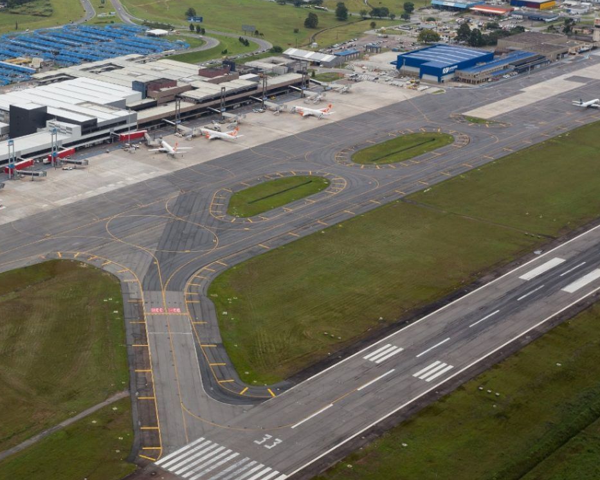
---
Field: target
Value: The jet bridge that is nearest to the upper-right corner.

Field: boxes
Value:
[308,77,353,90]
